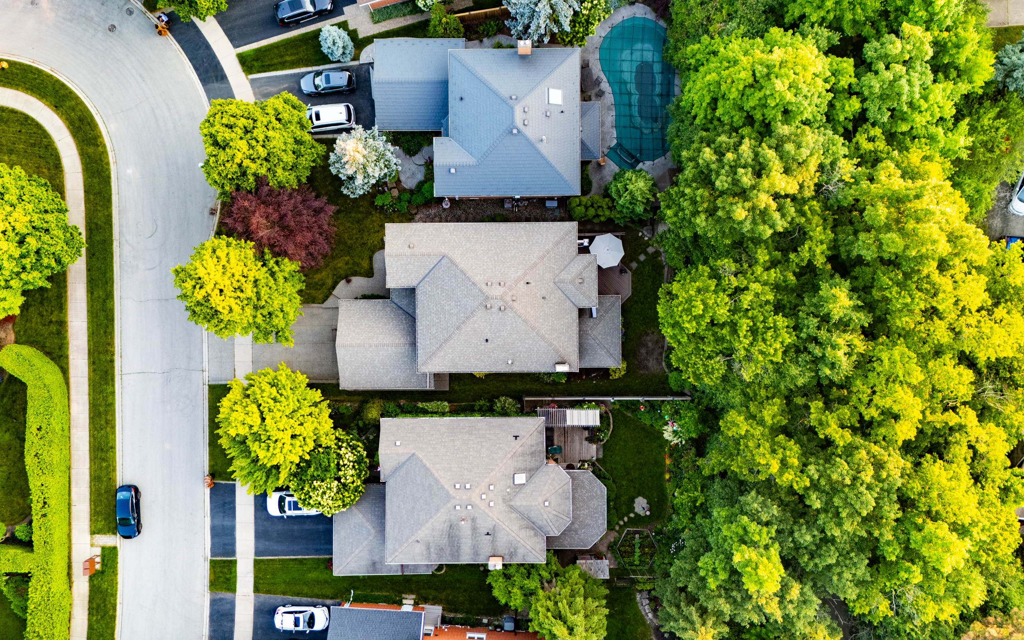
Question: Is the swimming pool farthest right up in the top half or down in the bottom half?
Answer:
top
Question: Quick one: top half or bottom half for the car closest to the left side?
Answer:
bottom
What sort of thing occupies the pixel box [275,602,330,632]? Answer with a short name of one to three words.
car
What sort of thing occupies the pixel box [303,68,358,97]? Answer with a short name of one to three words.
car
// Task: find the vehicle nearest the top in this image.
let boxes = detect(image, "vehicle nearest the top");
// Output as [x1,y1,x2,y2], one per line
[274,0,336,28]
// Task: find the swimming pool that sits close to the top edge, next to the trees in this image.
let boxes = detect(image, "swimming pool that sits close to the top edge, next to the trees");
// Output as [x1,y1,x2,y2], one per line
[596,12,679,172]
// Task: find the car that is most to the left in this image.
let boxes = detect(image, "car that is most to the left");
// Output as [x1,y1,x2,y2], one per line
[115,483,145,536]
